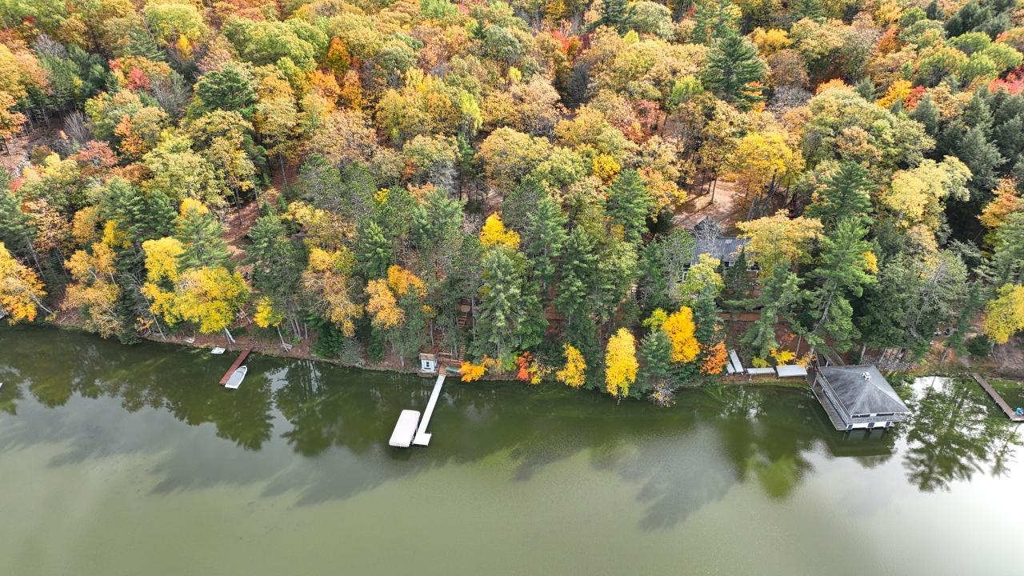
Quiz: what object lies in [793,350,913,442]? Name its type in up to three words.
building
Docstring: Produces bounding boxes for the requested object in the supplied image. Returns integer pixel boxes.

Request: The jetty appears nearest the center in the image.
[411,378,443,449]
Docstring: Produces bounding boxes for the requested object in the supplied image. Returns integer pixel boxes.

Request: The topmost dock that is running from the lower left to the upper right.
[219,334,262,387]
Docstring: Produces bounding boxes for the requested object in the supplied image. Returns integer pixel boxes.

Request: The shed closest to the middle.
[414,347,436,375]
